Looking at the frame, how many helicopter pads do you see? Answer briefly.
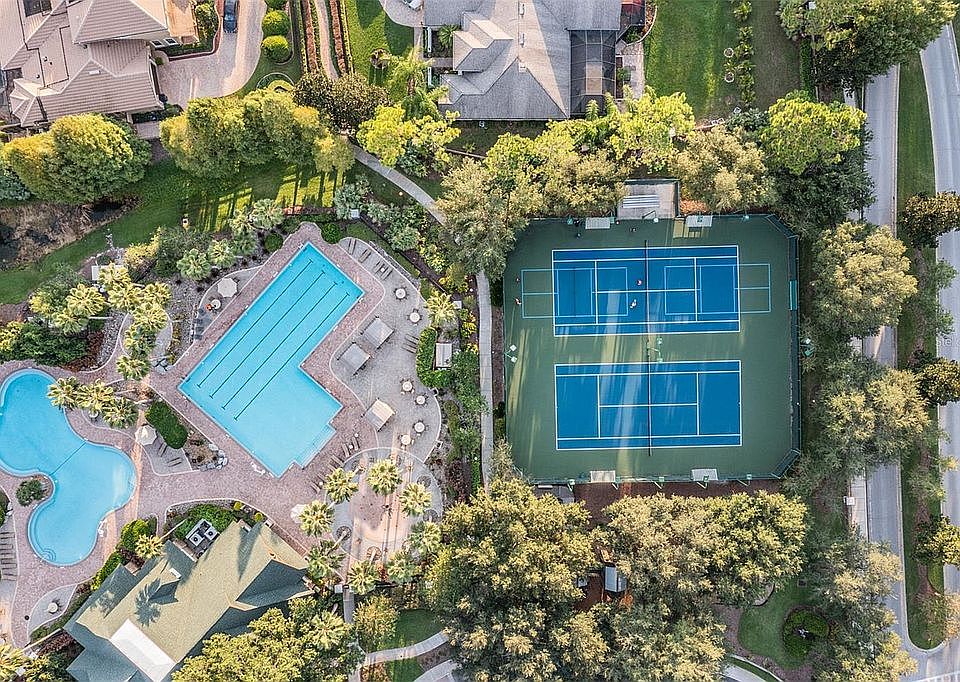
none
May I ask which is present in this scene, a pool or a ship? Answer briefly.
pool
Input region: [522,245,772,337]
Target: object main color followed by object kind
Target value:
blue tennis court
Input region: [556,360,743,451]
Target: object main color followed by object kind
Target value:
blue tennis court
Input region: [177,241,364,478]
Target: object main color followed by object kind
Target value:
blue swimming pool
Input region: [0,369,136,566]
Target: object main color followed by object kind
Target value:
blue swimming pool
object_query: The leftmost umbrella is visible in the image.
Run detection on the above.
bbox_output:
[134,424,157,447]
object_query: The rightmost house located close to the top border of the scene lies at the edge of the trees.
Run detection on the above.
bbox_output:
[424,0,620,123]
